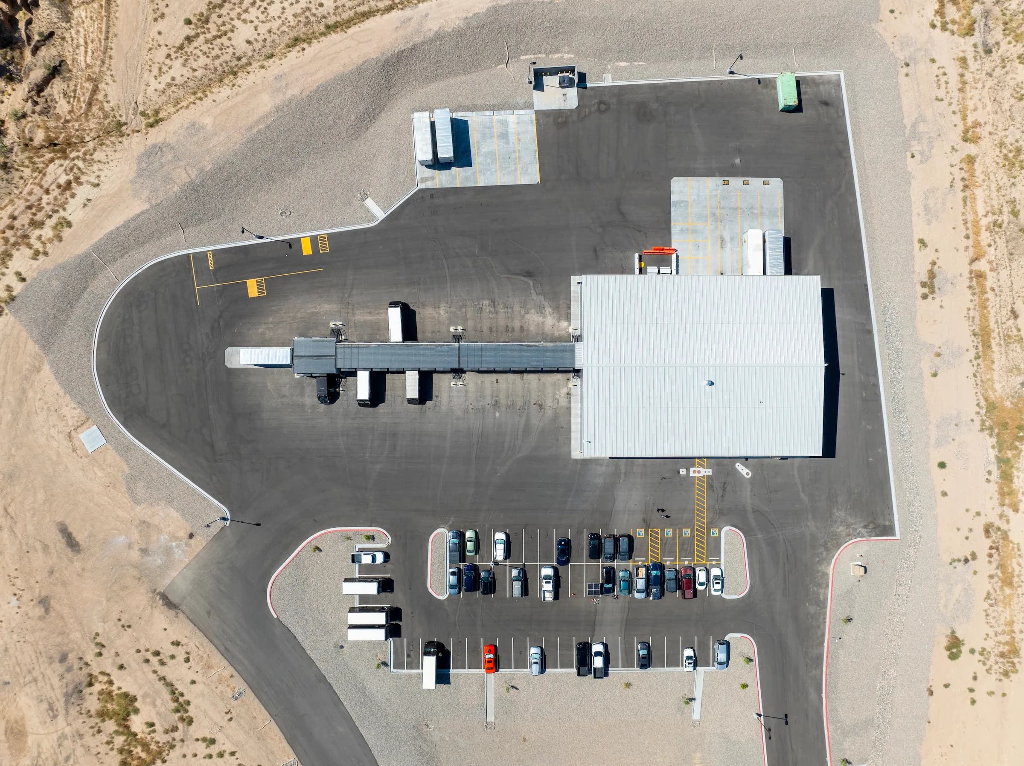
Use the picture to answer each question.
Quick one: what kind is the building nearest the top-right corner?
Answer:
warehouse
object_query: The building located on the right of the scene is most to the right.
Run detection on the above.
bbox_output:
[577,274,832,457]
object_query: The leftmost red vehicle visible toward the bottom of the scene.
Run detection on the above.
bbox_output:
[483,644,496,673]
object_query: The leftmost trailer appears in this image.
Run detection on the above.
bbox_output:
[241,349,292,364]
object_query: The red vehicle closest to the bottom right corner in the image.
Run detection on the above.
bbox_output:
[680,566,694,600]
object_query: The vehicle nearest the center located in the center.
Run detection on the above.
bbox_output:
[405,372,422,406]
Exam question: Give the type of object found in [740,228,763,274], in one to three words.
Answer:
trailer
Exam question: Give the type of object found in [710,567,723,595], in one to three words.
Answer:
vehicle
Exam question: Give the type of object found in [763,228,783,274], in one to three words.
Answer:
trailer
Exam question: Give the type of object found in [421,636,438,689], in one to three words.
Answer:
vehicle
